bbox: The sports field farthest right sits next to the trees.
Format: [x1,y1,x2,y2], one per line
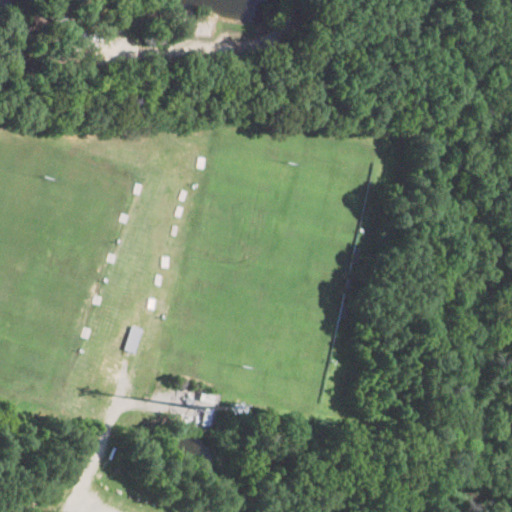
[180,140,366,404]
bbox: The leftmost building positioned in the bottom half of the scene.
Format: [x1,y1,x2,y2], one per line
[123,324,144,354]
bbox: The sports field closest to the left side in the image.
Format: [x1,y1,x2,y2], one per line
[0,152,134,386]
